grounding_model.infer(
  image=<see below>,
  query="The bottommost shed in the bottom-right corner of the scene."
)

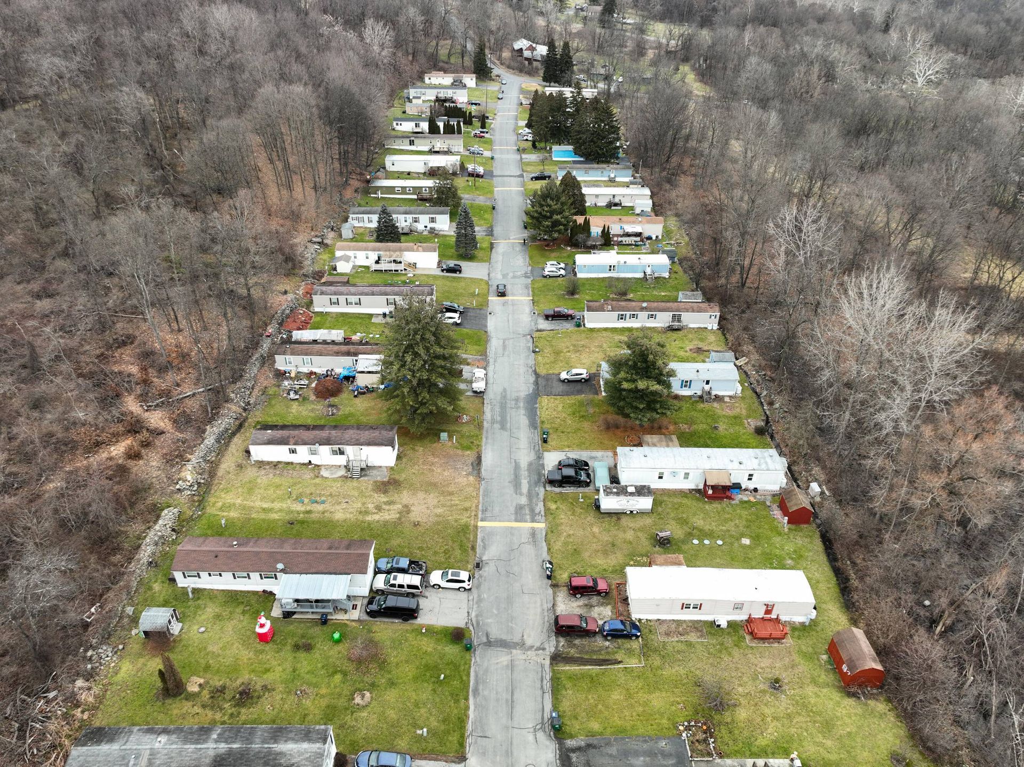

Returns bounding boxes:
[826,624,893,690]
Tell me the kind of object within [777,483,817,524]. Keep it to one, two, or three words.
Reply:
shed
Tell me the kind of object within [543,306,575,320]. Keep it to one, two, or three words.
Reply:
vehicle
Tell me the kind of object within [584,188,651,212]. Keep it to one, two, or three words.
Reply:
house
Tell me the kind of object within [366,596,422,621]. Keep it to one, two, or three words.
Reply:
car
